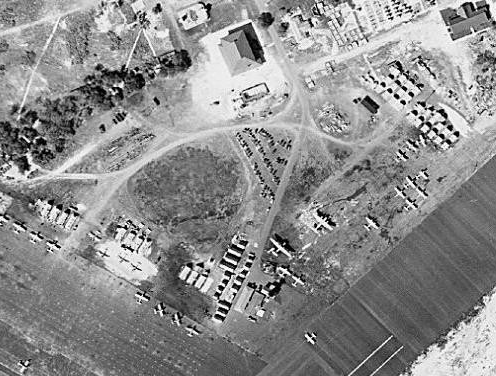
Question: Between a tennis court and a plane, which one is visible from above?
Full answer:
Looking from above, you can make out a plane.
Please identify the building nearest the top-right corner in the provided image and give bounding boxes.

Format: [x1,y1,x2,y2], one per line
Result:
[444,0,491,41]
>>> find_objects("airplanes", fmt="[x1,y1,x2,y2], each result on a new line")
[20,362,28,371]
[269,239,290,260]
[136,295,148,305]
[291,276,303,289]
[418,171,428,180]
[118,257,128,266]
[406,141,417,153]
[406,200,417,211]
[396,152,407,163]
[30,233,42,244]
[170,314,181,327]
[416,188,427,199]
[186,328,198,338]
[153,305,164,317]
[417,137,427,146]
[306,333,317,345]
[364,219,376,231]
[14,224,26,235]
[313,215,332,233]
[394,188,406,199]
[277,267,290,279]
[405,177,416,188]
[47,243,59,253]
[98,252,108,262]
